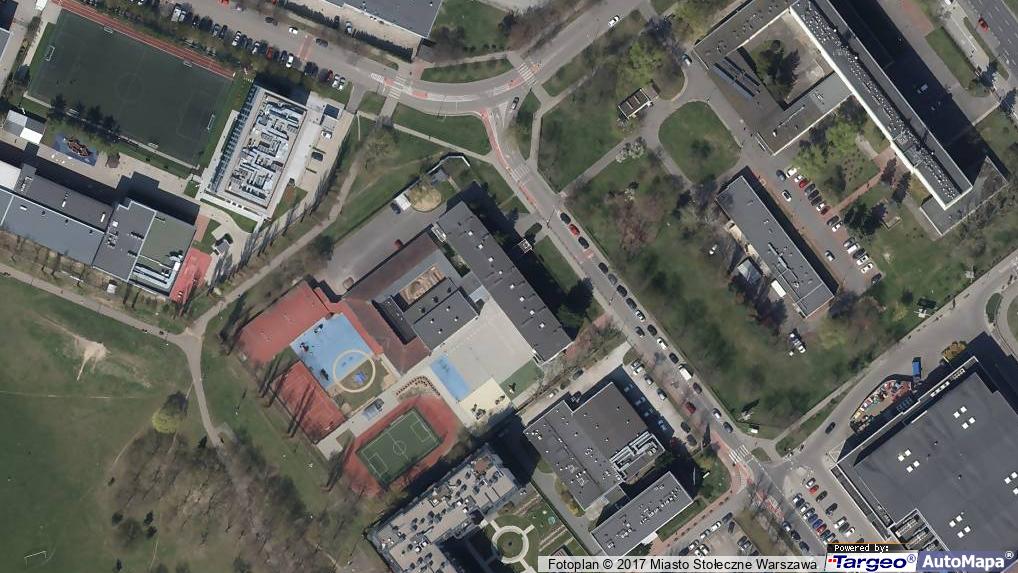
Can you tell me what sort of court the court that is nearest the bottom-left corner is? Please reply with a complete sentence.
I'd identify the court that is nearest the bottom-left corner as a tennis court.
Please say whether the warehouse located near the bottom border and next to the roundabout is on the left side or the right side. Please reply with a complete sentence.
The warehouse located near the bottom border and next to the roundabout appears in the right half of the scene.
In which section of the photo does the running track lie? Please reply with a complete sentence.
The running track is located in the top left region of the scene.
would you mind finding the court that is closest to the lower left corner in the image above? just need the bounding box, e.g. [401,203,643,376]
[271,361,344,443]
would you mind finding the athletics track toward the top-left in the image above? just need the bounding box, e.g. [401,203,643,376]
[56,0,236,81]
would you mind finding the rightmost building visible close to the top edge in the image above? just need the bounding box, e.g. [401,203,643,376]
[786,0,973,211]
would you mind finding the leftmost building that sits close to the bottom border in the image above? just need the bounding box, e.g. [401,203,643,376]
[366,452,520,573]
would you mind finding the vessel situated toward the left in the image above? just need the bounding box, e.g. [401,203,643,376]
[67,139,89,155]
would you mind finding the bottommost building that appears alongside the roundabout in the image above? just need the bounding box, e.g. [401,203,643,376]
[829,357,1018,573]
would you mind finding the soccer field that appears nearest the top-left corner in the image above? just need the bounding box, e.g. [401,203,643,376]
[28,9,233,168]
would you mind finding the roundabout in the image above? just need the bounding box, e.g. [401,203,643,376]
[984,270,1018,366]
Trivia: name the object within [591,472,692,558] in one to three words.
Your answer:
building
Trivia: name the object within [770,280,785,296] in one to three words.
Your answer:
vehicle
